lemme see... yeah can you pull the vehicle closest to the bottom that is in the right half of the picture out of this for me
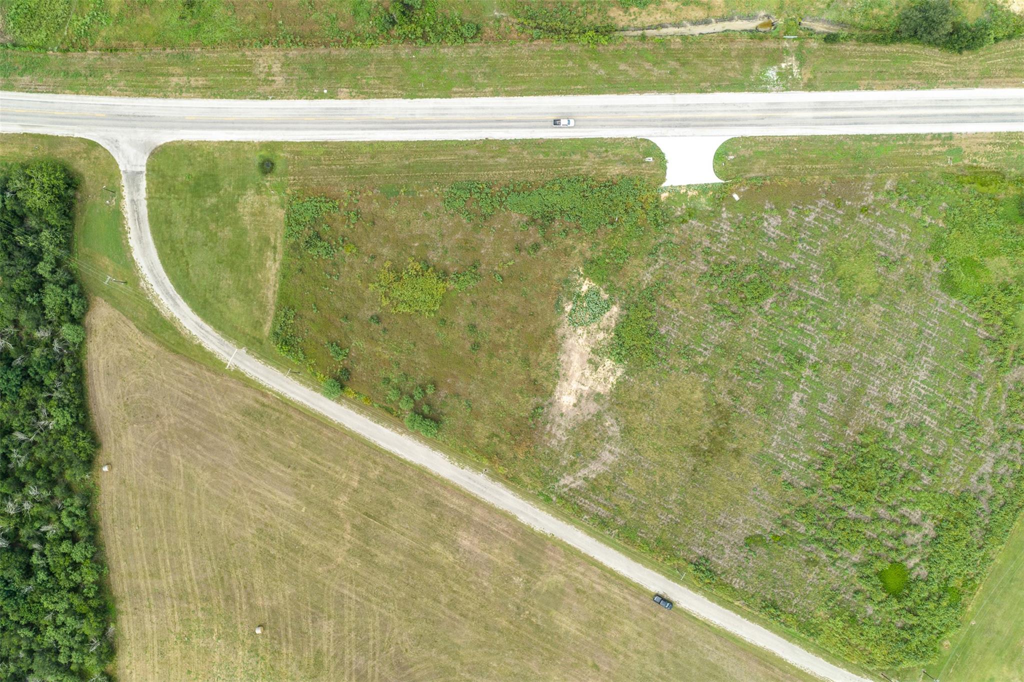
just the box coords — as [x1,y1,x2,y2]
[651,593,673,609]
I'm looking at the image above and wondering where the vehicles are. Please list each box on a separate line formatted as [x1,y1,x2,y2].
[651,593,673,609]
[552,118,575,127]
